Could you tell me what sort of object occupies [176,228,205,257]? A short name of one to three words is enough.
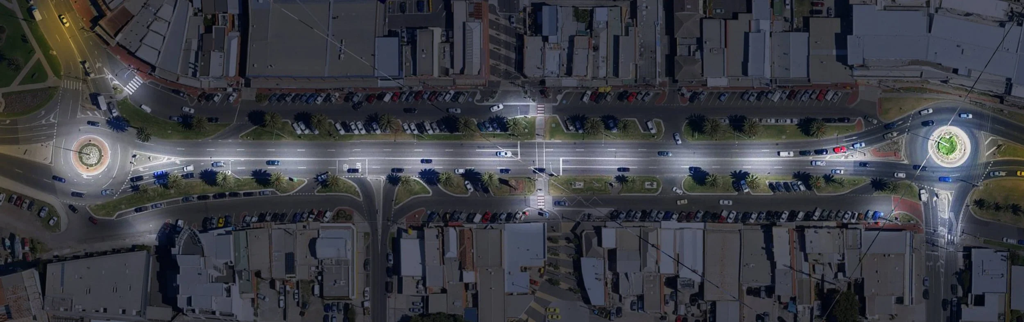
building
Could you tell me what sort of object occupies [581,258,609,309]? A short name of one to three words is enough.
building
